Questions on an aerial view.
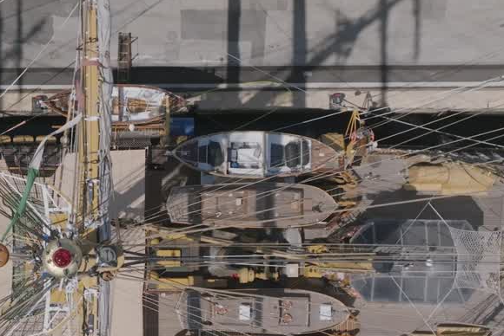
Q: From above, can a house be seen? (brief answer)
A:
No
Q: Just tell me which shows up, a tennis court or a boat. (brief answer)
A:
boat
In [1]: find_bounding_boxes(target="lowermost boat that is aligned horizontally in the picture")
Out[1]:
[173,288,354,336]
